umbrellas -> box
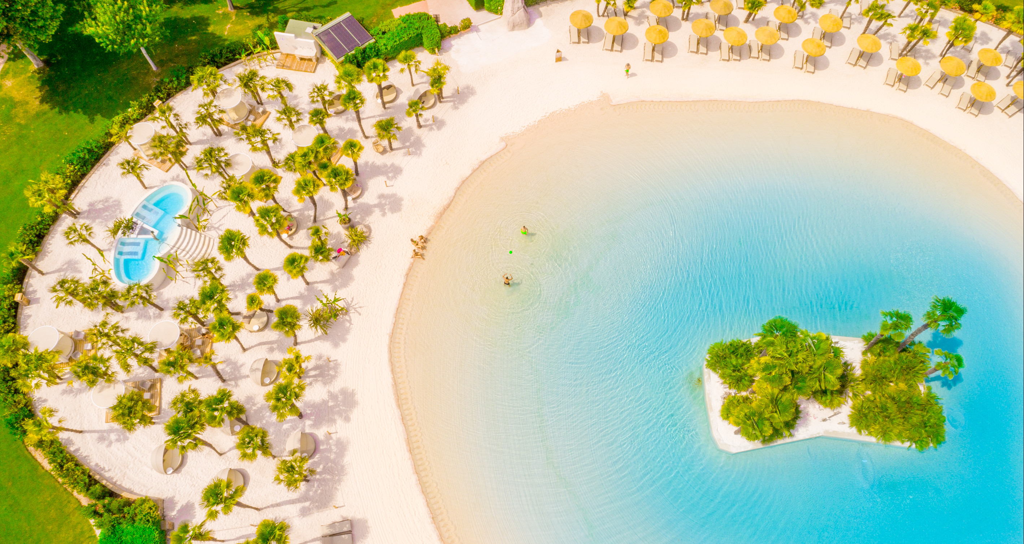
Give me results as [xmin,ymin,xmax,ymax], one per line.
[650,1,674,26]
[895,58,921,84]
[644,27,669,53]
[773,7,797,32]
[1010,81,1024,107]
[722,28,747,53]
[710,0,734,22]
[818,16,843,41]
[691,20,715,45]
[969,83,997,109]
[754,28,779,53]
[801,39,826,65]
[857,35,882,61]
[976,49,1003,75]
[569,12,593,37]
[604,18,628,44]
[939,58,966,84]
